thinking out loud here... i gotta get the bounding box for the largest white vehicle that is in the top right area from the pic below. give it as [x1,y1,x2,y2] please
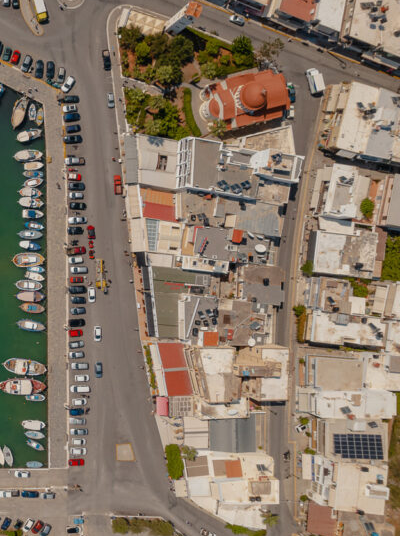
[301,67,327,98]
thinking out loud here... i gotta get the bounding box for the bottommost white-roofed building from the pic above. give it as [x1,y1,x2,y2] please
[189,495,267,529]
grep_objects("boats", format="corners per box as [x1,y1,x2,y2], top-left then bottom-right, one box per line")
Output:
[16,318,48,333]
[14,150,46,162]
[15,280,46,291]
[36,107,44,126]
[28,100,36,121]
[17,230,46,240]
[3,445,13,467]
[12,93,28,129]
[23,162,46,170]
[25,460,44,467]
[23,177,45,187]
[27,265,47,273]
[19,302,48,315]
[18,196,47,208]
[19,240,47,251]
[24,430,46,439]
[23,270,45,281]
[11,253,46,267]
[22,420,46,430]
[1,358,49,376]
[15,290,47,302]
[22,170,46,178]
[26,393,48,402]
[22,209,46,218]
[0,378,49,395]
[17,129,46,142]
[25,436,48,455]
[19,187,46,197]
[25,221,47,232]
